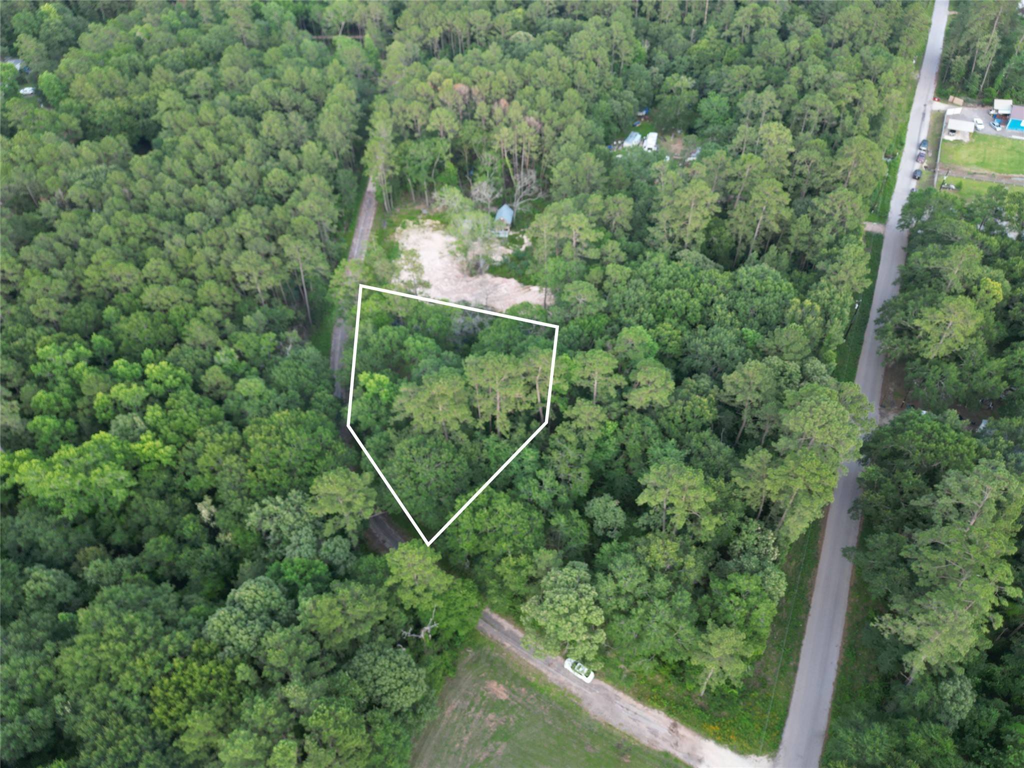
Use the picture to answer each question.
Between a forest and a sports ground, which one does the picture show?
forest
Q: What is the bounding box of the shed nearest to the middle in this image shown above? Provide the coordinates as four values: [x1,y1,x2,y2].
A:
[495,207,513,236]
